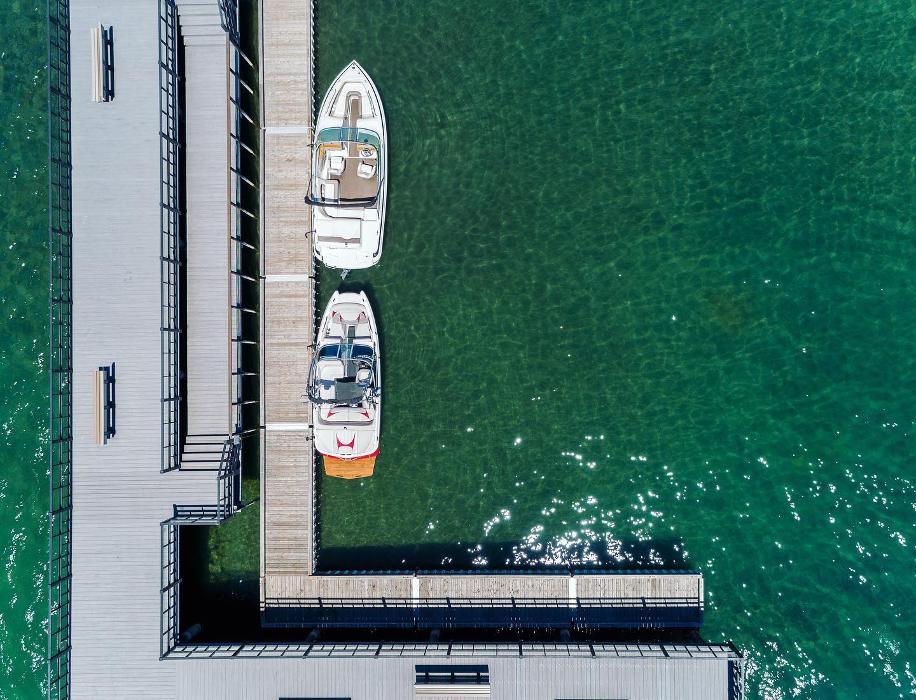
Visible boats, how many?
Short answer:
2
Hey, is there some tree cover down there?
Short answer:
No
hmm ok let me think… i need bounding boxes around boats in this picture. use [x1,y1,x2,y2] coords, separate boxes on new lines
[301,290,382,478]
[303,61,385,281]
